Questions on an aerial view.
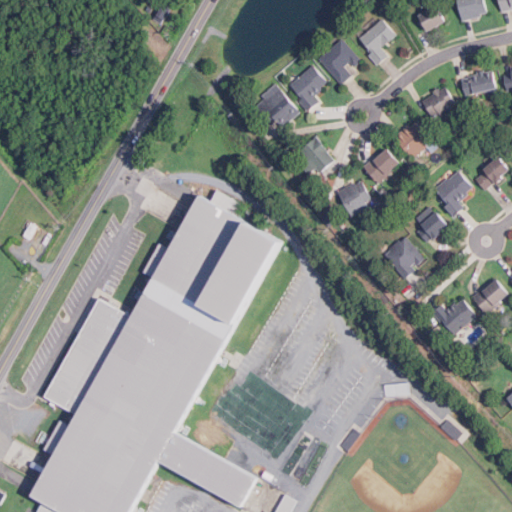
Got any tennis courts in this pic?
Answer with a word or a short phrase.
Yes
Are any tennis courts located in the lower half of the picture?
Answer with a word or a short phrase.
Yes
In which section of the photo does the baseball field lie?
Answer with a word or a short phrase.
bottom right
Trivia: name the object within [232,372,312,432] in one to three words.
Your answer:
tennis court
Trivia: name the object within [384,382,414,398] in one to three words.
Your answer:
building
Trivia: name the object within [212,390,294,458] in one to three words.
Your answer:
tennis court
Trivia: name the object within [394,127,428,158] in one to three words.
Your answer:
house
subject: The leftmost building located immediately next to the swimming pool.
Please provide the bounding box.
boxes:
[434,299,476,334]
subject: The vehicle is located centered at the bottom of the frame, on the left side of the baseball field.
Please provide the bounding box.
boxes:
[258,469,278,482]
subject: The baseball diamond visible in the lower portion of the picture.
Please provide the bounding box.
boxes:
[344,400,462,512]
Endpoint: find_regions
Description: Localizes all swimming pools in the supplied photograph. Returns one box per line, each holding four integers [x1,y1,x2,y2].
[467,326,483,344]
